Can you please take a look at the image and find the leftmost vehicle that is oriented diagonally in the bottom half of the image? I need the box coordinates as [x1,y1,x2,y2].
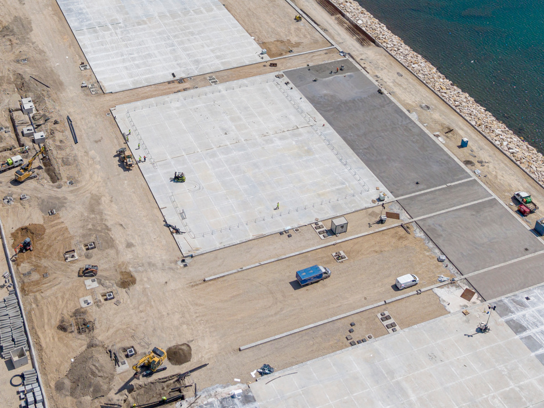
[9,239,33,262]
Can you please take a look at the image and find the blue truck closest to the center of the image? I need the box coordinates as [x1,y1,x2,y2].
[294,260,329,285]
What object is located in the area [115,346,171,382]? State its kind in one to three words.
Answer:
work vehicle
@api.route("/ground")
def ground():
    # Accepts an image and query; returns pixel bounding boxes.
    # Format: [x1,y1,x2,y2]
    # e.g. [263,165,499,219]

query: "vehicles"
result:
[169,170,187,184]
[16,143,49,180]
[393,272,421,289]
[119,148,139,172]
[514,187,542,208]
[9,239,33,262]
[292,14,302,22]
[294,260,329,285]
[0,152,24,170]
[74,263,99,278]
[115,346,171,382]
